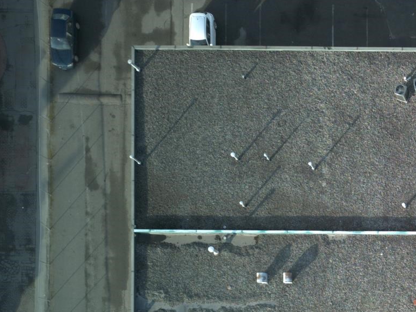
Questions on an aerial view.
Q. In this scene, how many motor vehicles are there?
2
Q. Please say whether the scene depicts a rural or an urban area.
urban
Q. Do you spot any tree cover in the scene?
No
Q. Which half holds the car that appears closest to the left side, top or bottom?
top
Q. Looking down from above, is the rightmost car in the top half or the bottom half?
top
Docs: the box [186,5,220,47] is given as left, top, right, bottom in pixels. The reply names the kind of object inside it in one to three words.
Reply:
car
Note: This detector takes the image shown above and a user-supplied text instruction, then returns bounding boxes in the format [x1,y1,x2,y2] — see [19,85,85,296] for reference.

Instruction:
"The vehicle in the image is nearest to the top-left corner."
[47,7,85,76]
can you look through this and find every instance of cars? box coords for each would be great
[186,5,220,47]
[47,7,85,76]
